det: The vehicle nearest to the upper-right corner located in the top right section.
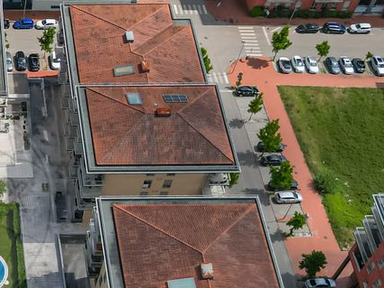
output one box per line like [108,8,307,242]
[346,21,375,33]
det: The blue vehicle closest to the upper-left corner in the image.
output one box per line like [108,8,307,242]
[14,17,36,30]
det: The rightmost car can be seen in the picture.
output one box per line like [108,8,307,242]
[370,54,384,76]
